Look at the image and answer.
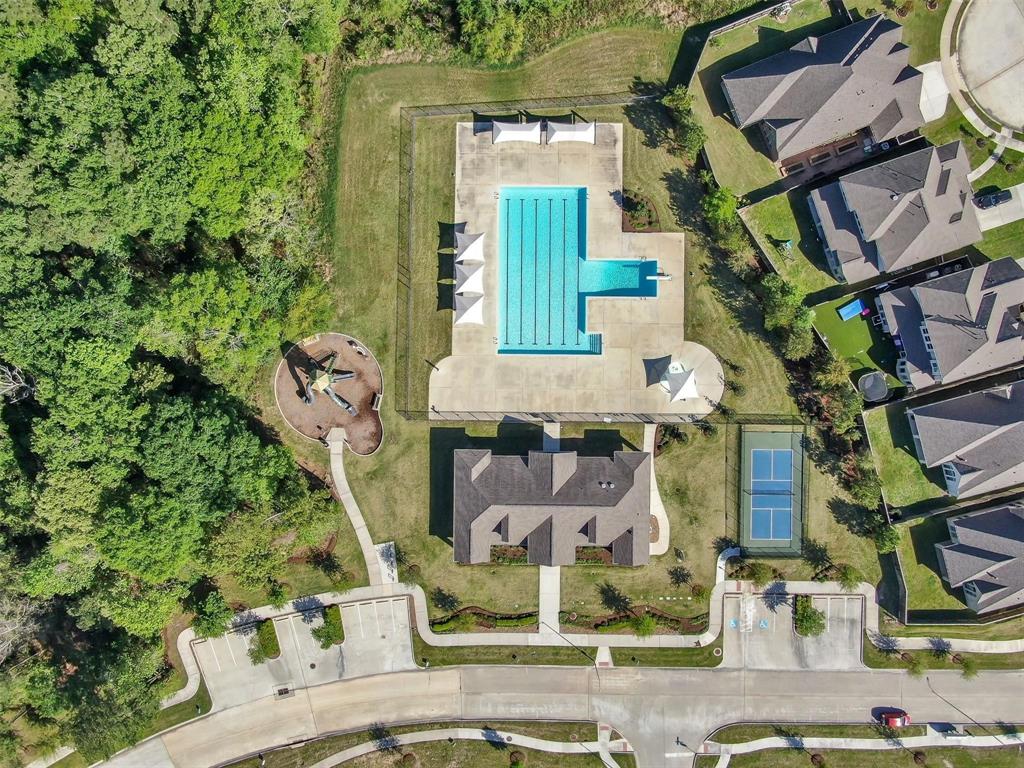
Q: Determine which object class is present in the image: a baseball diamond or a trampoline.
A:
trampoline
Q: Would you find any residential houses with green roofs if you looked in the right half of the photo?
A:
No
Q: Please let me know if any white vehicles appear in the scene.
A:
No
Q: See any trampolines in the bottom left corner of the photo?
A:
No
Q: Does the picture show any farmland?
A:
No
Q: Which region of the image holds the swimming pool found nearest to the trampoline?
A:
right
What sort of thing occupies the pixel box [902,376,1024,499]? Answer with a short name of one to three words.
house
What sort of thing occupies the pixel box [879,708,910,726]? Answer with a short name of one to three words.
car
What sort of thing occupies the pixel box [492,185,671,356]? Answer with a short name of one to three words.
swimming pool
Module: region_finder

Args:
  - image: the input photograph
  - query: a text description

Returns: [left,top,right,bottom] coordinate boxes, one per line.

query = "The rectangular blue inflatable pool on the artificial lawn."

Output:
[836,300,868,322]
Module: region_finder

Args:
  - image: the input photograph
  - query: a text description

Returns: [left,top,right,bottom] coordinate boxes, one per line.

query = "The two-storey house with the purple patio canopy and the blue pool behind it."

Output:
[871,257,1024,390]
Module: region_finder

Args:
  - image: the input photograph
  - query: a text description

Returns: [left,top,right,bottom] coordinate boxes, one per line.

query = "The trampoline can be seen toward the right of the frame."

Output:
[859,371,892,401]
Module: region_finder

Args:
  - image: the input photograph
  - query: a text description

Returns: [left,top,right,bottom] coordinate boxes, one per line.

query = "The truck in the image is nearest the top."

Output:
[974,187,1017,210]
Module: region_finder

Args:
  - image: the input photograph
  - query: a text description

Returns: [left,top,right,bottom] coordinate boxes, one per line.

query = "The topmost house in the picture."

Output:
[720,14,925,166]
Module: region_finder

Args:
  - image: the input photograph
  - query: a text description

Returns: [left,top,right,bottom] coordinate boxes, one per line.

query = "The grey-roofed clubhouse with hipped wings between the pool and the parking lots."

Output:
[454,449,650,569]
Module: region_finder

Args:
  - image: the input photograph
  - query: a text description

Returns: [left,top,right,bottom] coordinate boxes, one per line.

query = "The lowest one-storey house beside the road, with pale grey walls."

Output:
[931,497,1024,615]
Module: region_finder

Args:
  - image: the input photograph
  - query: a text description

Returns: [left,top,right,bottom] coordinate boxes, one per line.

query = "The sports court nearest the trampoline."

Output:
[741,431,802,556]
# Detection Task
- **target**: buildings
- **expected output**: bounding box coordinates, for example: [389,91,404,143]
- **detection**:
[871,257,1024,390]
[902,376,1024,499]
[454,449,650,569]
[720,14,925,166]
[931,497,1024,615]
[805,141,983,285]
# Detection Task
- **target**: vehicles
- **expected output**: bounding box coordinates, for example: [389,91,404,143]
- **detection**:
[974,187,1017,210]
[879,708,910,726]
